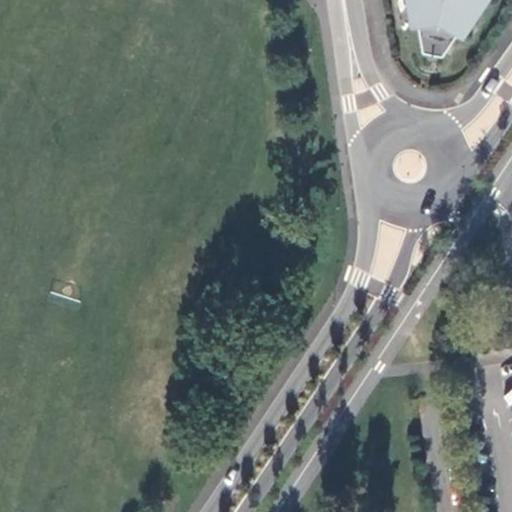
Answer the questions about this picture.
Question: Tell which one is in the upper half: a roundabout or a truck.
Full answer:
It is a roundabout that can be seen in the upper half.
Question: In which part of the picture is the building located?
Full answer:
The building is located in the top right region of the scene.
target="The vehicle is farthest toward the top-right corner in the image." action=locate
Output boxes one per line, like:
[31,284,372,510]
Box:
[482,74,502,96]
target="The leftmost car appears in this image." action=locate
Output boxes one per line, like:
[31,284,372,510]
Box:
[223,466,240,487]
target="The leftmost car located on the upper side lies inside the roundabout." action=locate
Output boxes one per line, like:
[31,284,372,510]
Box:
[421,192,436,214]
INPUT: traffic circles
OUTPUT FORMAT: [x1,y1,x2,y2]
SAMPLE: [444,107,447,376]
[345,96,486,237]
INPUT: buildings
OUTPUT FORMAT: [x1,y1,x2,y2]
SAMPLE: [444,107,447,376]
[398,0,488,58]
